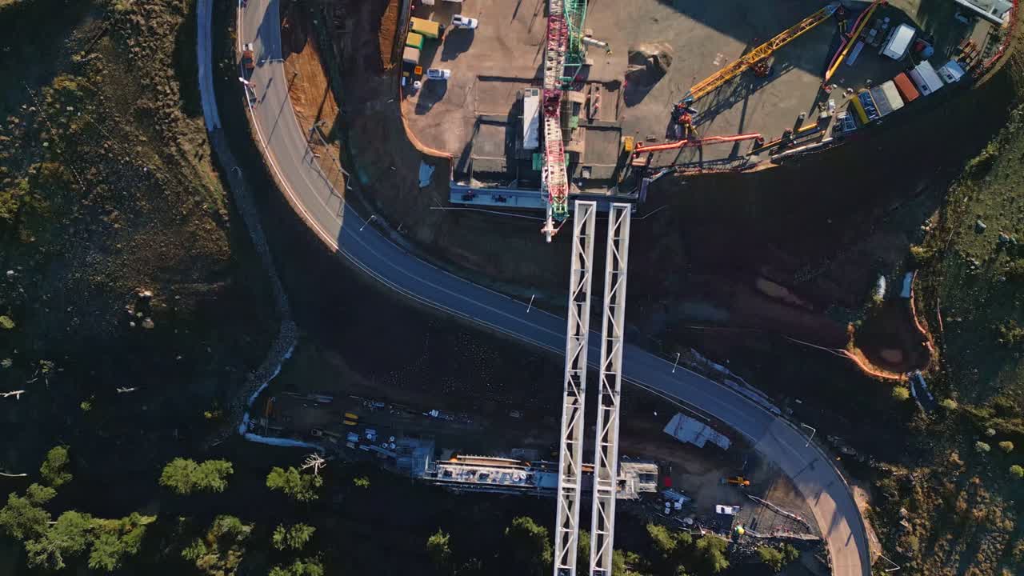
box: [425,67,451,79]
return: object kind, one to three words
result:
vehicle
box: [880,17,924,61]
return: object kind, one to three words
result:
building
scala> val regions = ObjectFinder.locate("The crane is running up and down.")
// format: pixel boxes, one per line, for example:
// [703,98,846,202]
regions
[541,0,595,242]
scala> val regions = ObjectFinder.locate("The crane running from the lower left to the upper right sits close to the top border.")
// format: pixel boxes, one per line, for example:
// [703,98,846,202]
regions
[671,4,842,138]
